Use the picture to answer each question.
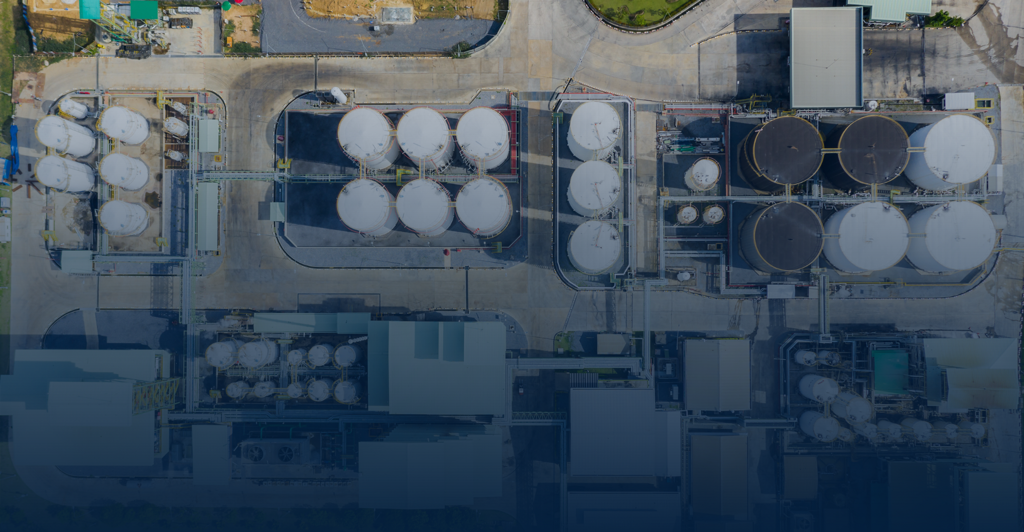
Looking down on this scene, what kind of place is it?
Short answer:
industrial area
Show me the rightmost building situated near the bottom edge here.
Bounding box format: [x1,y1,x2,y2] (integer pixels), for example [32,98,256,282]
[947,461,1021,532]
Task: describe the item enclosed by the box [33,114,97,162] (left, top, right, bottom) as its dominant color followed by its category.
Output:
white storage tank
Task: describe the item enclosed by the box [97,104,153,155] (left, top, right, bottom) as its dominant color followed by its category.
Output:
white storage tank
